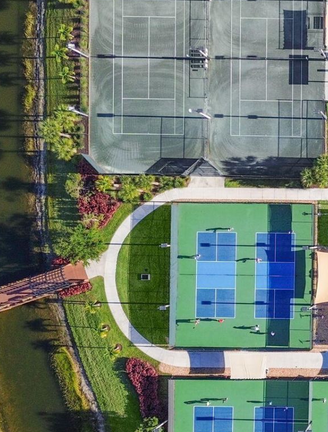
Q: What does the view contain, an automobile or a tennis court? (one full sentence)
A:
The image shows a tennis court.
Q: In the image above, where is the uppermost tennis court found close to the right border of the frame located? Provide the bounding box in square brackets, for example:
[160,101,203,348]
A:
[207,0,325,176]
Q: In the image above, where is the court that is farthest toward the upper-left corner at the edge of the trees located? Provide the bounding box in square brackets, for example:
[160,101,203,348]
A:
[87,0,208,174]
